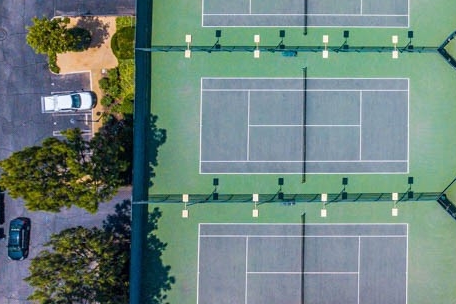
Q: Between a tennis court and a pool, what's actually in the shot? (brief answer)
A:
tennis court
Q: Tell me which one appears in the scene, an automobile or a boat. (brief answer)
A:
automobile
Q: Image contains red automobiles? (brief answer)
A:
No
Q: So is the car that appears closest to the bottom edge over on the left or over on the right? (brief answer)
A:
left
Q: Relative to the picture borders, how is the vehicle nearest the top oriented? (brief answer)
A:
from side to side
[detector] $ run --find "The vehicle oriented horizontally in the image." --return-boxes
[41,91,96,113]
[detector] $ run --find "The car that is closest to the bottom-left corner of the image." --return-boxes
[4,216,29,260]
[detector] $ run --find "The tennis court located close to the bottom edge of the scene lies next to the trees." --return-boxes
[140,201,456,304]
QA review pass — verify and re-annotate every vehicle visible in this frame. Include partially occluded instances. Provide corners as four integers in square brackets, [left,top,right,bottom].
[4,216,29,260]
[41,91,96,113]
